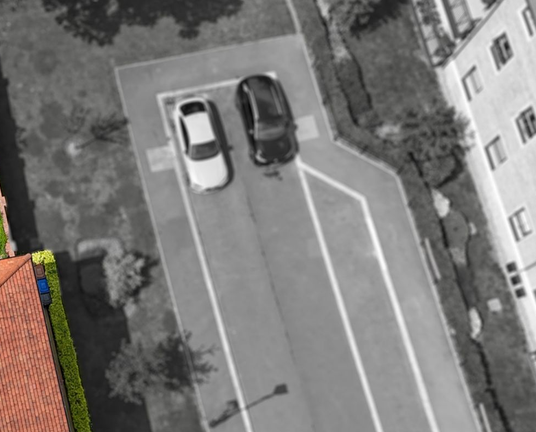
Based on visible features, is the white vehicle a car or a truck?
car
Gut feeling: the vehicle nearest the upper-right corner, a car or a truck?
car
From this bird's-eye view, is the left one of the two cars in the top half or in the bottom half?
top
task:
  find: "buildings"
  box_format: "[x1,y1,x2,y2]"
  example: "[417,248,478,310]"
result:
[0,253,70,432]
[416,0,536,322]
